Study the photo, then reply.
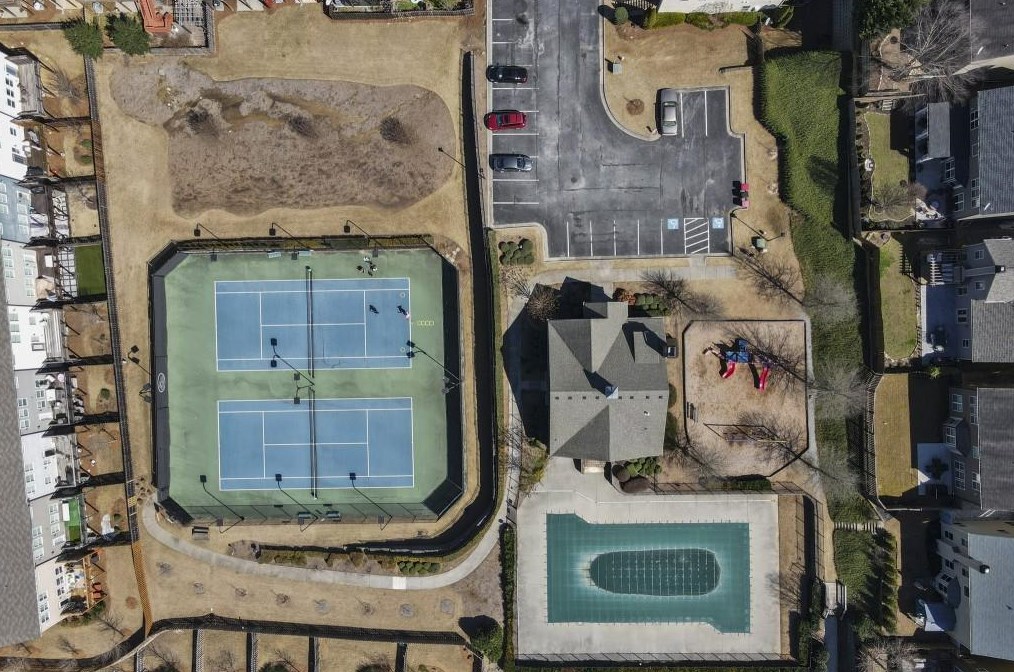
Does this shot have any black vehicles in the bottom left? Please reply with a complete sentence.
No, in the bottom left there is no black vehicle.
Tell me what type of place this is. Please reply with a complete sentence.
This image shows a residential area.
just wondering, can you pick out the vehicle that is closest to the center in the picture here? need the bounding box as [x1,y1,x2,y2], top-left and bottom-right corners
[493,155,532,174]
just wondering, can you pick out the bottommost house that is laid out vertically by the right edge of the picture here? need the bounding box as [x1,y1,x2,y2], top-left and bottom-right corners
[933,497,1014,659]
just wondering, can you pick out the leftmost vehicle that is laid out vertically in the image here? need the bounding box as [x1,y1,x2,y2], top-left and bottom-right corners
[659,91,679,136]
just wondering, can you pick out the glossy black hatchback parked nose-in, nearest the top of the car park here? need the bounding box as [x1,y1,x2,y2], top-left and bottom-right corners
[487,64,526,85]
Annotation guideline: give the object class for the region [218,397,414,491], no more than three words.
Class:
tennis court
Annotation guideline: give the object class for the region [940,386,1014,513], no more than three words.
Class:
house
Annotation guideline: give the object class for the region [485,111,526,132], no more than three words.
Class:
car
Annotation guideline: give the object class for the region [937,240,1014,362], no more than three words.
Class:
house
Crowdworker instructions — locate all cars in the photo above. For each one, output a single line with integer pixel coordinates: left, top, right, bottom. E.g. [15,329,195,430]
[493,155,532,174]
[659,91,679,136]
[487,64,526,85]
[485,111,526,132]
